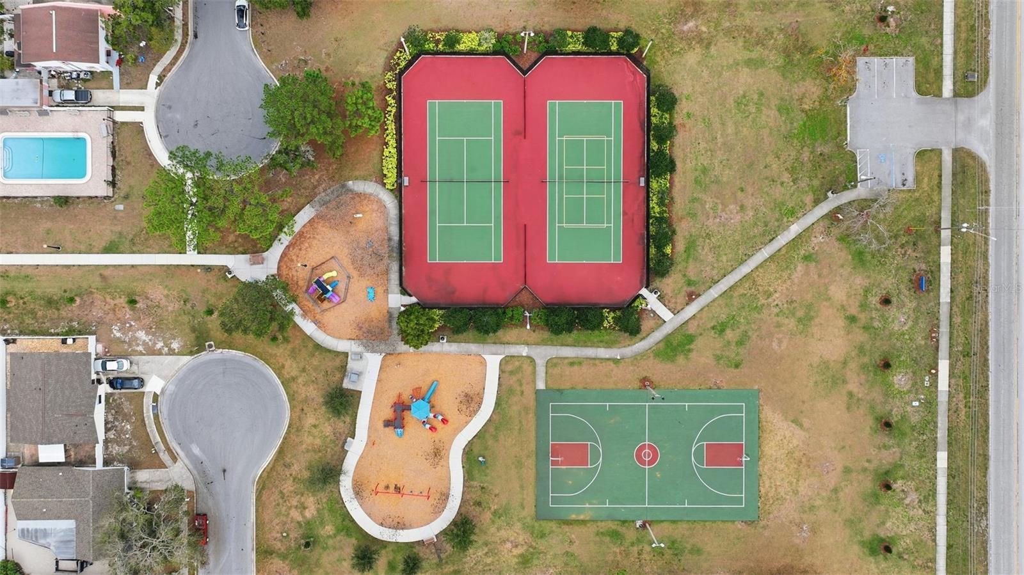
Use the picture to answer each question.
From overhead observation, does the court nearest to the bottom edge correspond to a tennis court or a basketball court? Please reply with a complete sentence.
I'd say the court nearest to the bottom edge is a basketball court.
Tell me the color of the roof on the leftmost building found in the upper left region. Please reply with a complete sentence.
The color of the roof on the leftmost building found in the upper left region is white.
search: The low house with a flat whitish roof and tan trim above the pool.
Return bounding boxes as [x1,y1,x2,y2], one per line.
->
[0,79,49,110]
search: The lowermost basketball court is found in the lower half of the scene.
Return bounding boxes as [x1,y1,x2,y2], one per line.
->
[536,388,759,520]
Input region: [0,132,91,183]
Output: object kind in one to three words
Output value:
swimming pool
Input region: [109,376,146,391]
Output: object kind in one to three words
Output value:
car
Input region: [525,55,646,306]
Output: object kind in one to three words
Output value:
tennis court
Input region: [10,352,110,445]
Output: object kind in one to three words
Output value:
house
